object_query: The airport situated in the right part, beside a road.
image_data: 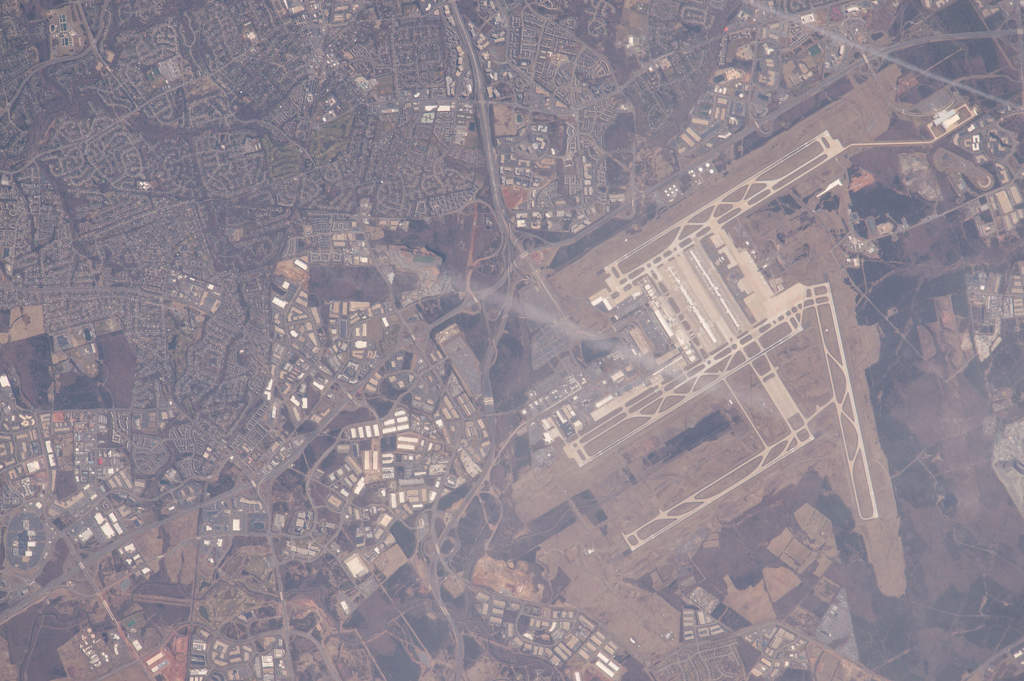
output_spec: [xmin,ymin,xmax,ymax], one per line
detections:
[544,129,937,556]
